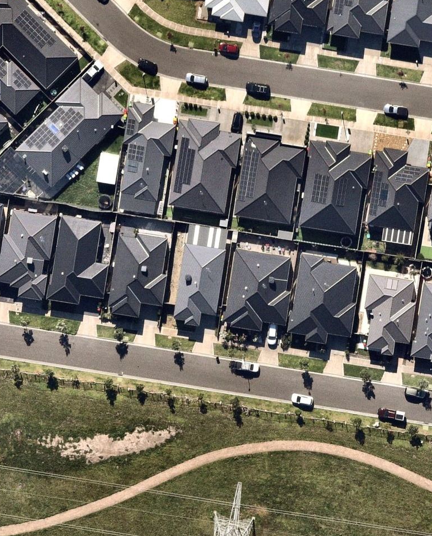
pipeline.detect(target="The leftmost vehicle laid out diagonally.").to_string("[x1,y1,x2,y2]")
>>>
[81,61,105,83]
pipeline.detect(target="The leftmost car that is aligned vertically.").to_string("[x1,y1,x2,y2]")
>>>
[231,109,243,134]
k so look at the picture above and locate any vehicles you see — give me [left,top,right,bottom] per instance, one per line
[384,105,408,116]
[235,361,260,372]
[377,408,405,421]
[186,73,209,86]
[135,59,159,74]
[218,44,240,55]
[245,83,271,97]
[252,20,262,41]
[231,109,243,134]
[405,388,430,400]
[290,394,314,406]
[81,61,105,83]
[266,324,277,345]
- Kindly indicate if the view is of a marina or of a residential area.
residential area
